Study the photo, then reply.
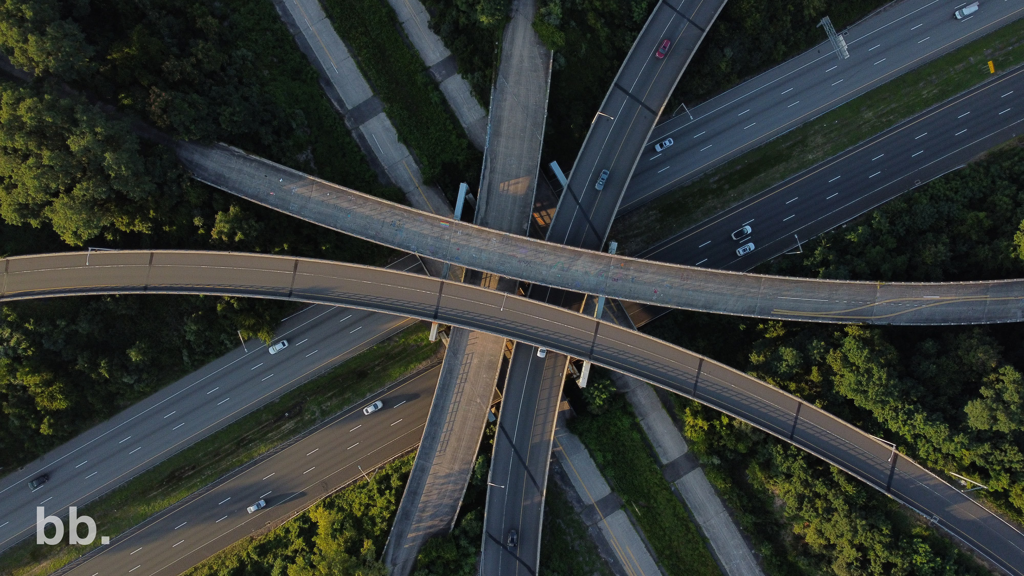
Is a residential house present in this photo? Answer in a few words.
No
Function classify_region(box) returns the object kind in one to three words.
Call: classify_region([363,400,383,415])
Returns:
car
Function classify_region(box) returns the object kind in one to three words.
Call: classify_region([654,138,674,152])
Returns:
car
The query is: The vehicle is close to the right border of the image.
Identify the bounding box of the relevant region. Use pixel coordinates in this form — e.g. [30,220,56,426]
[953,2,981,20]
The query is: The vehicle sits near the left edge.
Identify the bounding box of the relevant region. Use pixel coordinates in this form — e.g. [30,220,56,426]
[29,474,49,489]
